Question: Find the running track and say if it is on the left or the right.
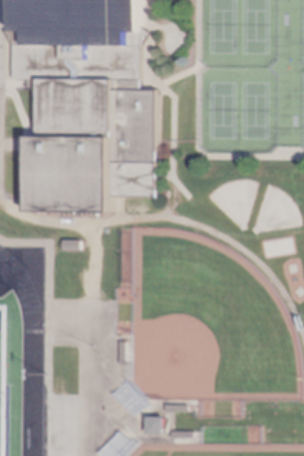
left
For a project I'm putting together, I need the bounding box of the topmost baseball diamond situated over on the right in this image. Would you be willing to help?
[134,228,304,401]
